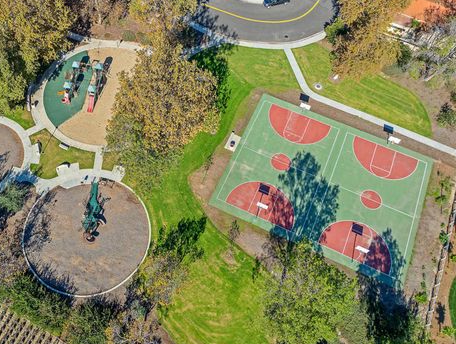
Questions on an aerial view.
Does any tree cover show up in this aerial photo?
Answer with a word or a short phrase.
Yes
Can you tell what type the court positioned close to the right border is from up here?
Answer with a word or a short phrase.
basketball court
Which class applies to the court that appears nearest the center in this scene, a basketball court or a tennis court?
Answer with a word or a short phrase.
basketball court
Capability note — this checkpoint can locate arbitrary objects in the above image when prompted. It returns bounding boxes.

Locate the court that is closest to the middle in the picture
[210,94,344,246]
